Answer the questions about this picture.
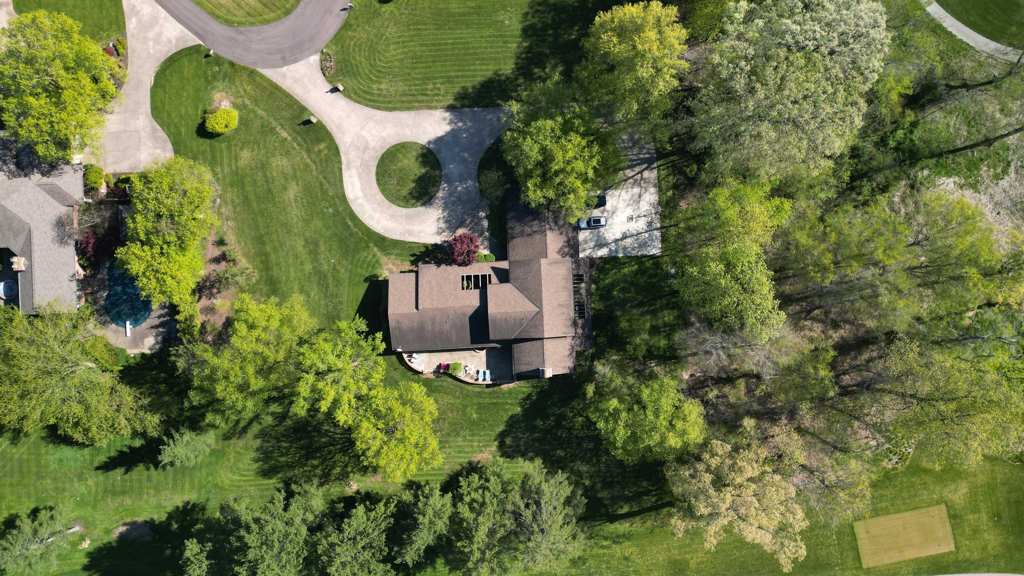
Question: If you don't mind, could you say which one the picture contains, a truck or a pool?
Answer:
pool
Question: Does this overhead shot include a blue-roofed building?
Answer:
No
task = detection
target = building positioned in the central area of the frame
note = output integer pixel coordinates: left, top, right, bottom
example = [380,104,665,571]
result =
[388,181,594,379]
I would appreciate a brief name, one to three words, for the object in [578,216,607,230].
car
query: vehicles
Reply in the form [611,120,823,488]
[578,216,607,230]
[578,196,607,209]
